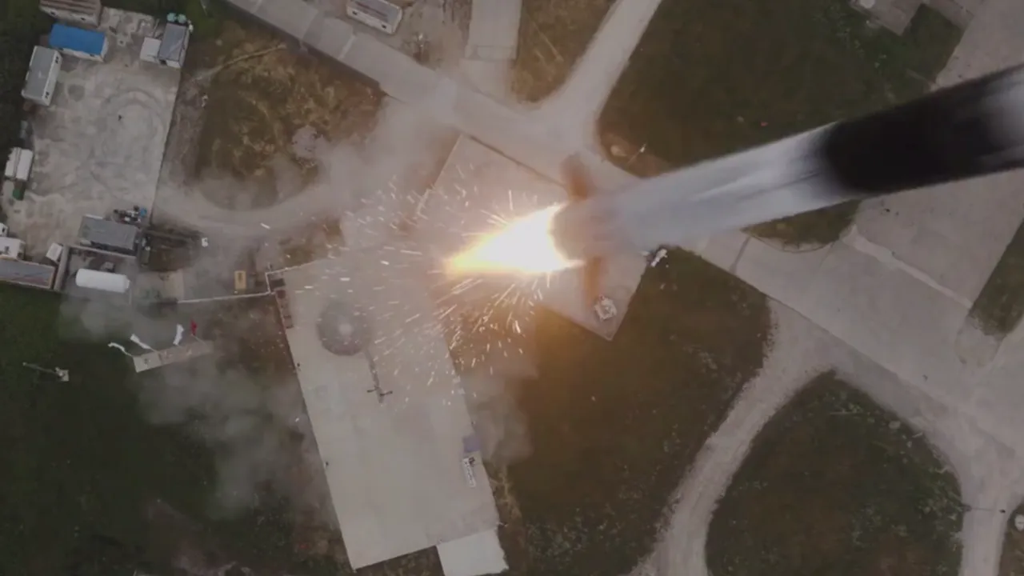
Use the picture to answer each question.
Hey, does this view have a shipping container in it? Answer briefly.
Yes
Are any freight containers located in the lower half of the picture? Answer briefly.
No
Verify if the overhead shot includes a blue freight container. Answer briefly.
Yes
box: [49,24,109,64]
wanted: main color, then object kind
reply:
blue shipping container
